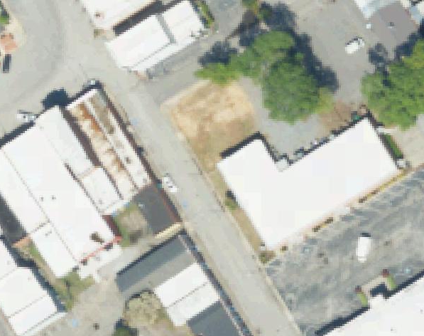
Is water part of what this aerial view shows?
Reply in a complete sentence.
No, the picture contains no water.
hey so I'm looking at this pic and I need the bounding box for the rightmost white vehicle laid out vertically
[357,235,370,261]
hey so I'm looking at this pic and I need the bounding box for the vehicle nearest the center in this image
[162,175,175,192]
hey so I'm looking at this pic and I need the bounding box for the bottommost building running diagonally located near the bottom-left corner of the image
[9,296,62,336]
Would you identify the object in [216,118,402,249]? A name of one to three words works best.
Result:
building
